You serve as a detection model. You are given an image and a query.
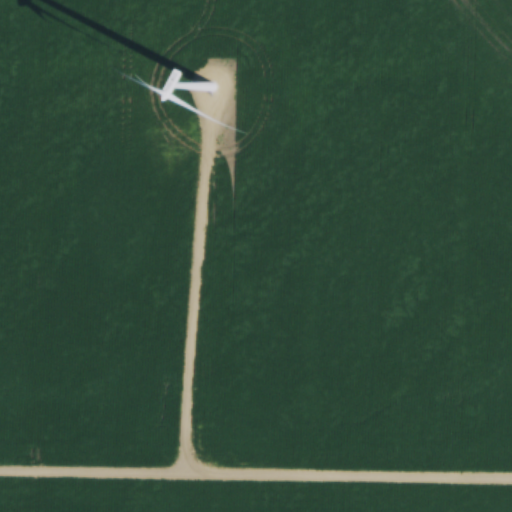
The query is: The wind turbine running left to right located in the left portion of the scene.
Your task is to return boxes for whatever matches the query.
[118,68,242,134]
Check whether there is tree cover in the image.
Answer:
No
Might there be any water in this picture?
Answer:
No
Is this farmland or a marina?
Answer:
farmland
